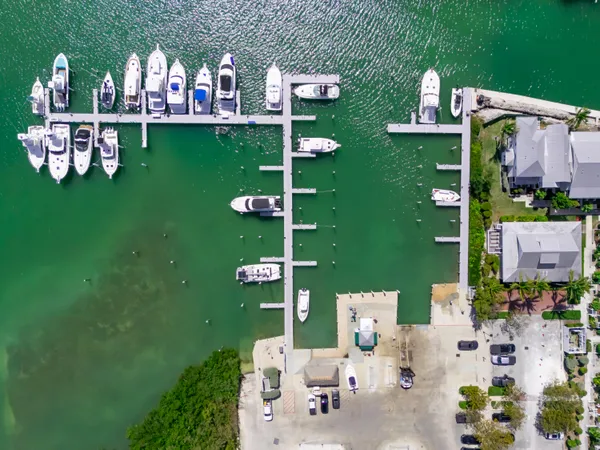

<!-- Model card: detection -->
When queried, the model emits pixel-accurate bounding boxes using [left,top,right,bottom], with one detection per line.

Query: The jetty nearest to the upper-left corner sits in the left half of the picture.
[45,88,283,148]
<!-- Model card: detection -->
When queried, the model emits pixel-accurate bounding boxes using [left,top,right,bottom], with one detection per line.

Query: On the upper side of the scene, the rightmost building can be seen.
[557,133,600,200]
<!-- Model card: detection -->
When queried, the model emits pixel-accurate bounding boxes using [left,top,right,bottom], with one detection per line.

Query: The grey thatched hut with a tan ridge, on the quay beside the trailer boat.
[304,363,339,387]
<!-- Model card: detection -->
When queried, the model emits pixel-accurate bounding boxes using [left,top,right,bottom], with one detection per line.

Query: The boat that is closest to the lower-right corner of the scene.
[343,361,359,394]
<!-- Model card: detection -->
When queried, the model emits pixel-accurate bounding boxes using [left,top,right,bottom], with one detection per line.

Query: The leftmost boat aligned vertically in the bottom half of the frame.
[297,287,310,323]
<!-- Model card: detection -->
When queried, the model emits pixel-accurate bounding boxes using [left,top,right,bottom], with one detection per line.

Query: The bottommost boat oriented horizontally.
[237,262,282,282]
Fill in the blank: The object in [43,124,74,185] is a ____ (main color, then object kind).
white boat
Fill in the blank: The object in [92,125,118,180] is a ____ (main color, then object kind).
white boat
